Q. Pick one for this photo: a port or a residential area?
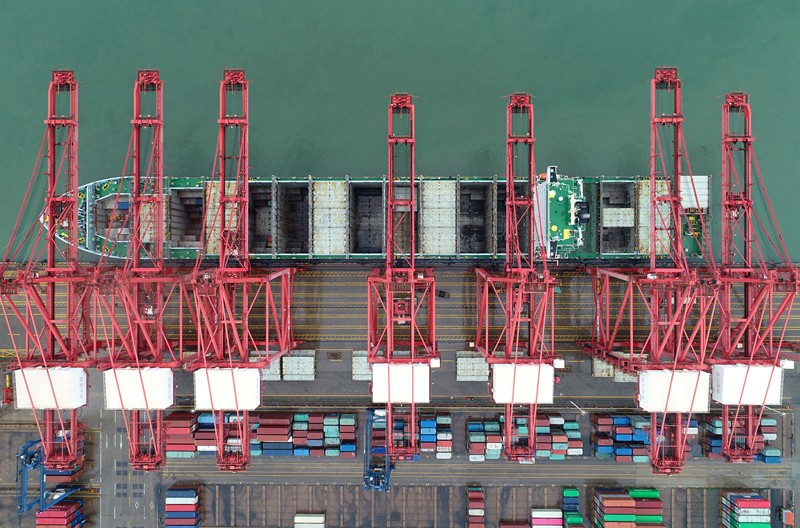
port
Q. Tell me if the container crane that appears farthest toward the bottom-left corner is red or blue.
blue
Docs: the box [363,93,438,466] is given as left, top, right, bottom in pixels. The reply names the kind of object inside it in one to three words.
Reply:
container crane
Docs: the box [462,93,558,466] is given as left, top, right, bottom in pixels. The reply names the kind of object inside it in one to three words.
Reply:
container crane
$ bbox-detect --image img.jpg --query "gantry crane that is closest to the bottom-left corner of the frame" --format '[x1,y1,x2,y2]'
[15,437,84,514]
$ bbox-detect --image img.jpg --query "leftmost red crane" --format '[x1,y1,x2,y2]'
[0,69,152,470]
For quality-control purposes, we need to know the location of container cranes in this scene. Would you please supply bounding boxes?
[362,408,395,492]
[0,69,152,470]
[15,437,84,514]
[648,93,800,466]
[92,69,220,470]
[462,93,558,466]
[363,93,438,466]
[192,69,305,470]
[577,67,725,470]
